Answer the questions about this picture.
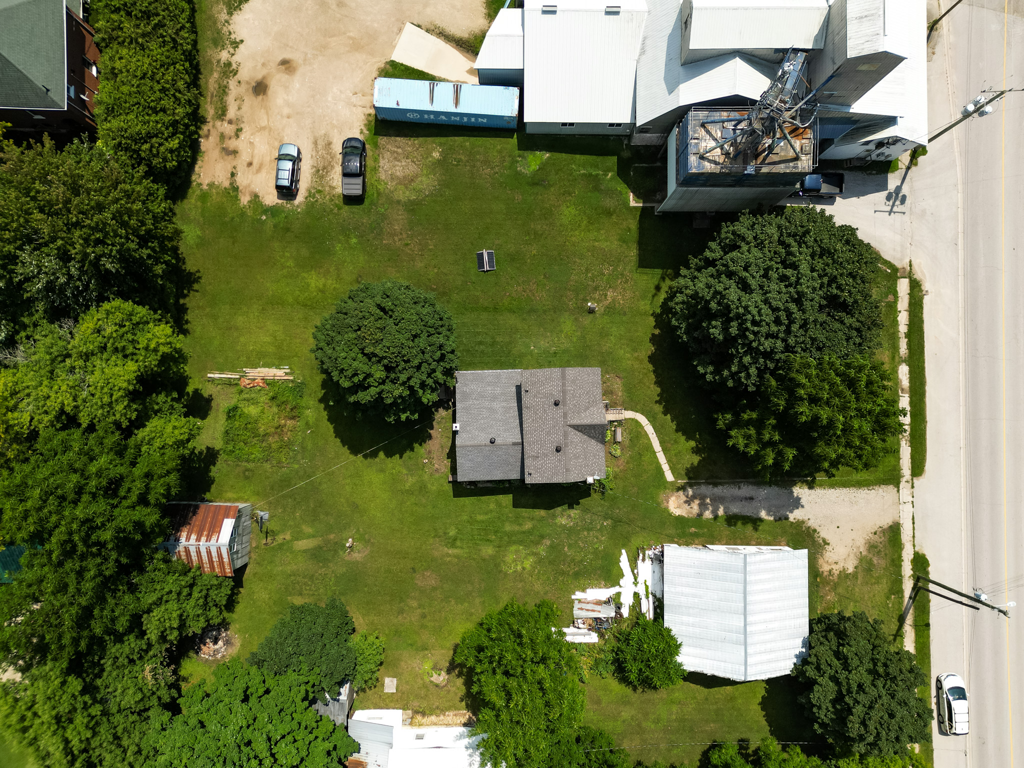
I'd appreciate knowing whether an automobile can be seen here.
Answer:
Yes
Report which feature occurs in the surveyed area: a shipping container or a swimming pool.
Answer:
shipping container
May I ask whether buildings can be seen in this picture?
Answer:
Yes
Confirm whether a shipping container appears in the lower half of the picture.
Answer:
No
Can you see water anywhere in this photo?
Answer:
No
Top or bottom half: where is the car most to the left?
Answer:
top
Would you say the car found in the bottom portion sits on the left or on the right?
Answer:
right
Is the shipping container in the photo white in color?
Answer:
Yes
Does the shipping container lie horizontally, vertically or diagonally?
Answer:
horizontally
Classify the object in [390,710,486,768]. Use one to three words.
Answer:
house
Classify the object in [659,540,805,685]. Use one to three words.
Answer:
barn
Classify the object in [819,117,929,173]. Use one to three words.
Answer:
building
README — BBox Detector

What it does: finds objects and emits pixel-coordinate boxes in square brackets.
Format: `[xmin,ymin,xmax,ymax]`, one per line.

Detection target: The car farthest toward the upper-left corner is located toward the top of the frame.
[273,142,300,194]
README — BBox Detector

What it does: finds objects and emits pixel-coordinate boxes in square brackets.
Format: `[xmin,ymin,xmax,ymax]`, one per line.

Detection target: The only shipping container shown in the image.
[373,77,520,128]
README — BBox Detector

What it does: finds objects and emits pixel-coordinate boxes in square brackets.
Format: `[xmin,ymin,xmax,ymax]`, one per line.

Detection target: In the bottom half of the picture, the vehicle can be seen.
[940,678,973,737]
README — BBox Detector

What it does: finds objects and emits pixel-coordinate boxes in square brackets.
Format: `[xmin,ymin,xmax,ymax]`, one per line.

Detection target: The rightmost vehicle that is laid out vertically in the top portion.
[340,136,368,199]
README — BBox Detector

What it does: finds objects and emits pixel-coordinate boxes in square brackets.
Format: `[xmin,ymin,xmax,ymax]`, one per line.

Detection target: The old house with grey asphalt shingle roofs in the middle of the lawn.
[436,368,627,486]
